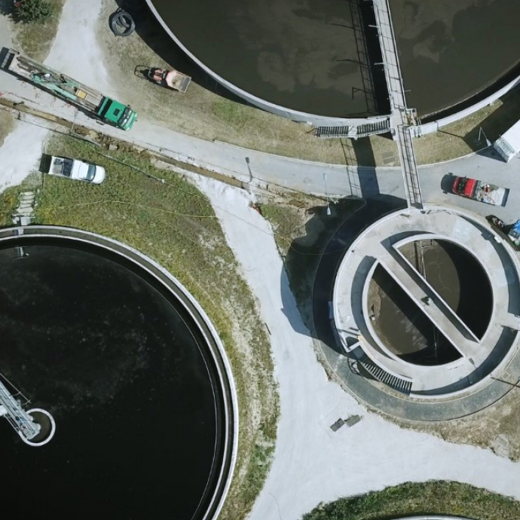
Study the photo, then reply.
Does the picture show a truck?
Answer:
Yes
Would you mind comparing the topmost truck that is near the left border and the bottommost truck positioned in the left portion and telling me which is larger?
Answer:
the topmost truck that is near the left border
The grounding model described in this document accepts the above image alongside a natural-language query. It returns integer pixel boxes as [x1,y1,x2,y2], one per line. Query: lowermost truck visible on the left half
[47,155,109,184]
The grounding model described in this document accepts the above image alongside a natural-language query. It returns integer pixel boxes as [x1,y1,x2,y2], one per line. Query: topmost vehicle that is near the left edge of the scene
[1,48,140,133]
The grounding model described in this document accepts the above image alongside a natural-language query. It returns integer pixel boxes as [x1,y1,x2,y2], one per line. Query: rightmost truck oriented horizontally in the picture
[450,176,508,206]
